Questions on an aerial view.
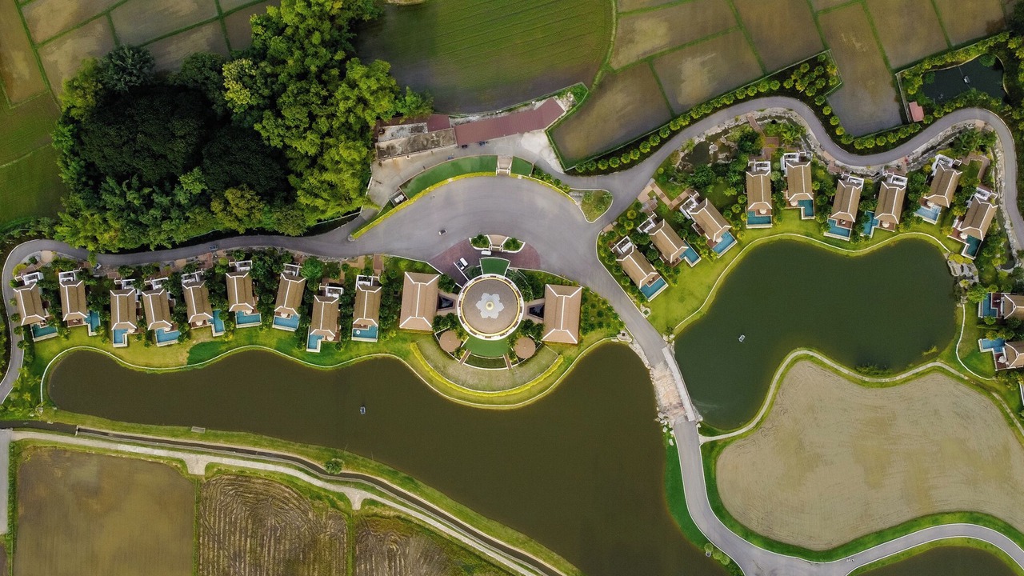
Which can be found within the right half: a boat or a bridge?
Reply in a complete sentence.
The one visible within the right half is a bridge.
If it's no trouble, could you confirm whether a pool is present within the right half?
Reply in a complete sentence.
Yes, within the right half there is a pool.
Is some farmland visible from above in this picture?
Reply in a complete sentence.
Yes, the picture does contain farmland.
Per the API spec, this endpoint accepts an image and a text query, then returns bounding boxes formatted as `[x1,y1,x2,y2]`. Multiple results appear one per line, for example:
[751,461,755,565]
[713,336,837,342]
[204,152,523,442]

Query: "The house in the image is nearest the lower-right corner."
[993,340,1024,371]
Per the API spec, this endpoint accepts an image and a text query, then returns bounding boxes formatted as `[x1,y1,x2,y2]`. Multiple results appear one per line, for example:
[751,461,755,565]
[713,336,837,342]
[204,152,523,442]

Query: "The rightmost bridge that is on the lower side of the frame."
[653,347,699,426]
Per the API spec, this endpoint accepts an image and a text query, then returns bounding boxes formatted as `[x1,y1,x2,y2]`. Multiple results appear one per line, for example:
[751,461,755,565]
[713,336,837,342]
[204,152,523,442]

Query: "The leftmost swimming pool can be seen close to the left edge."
[29,322,59,341]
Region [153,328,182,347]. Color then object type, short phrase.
blue swimming pool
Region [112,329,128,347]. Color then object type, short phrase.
blue swimming pool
